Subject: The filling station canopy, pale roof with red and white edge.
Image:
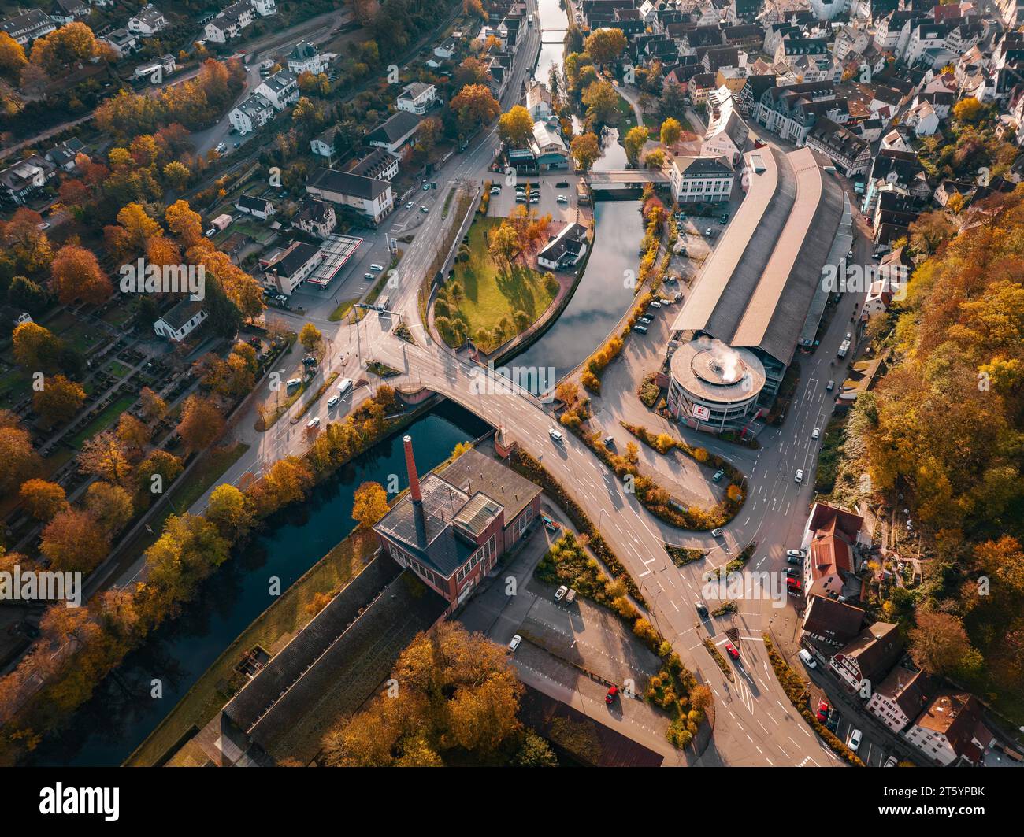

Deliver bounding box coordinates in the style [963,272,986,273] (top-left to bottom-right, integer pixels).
[302,234,361,291]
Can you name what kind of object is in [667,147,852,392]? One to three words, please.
building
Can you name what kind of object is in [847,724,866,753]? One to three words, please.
car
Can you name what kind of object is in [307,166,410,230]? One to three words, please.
house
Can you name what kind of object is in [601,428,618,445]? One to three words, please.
car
